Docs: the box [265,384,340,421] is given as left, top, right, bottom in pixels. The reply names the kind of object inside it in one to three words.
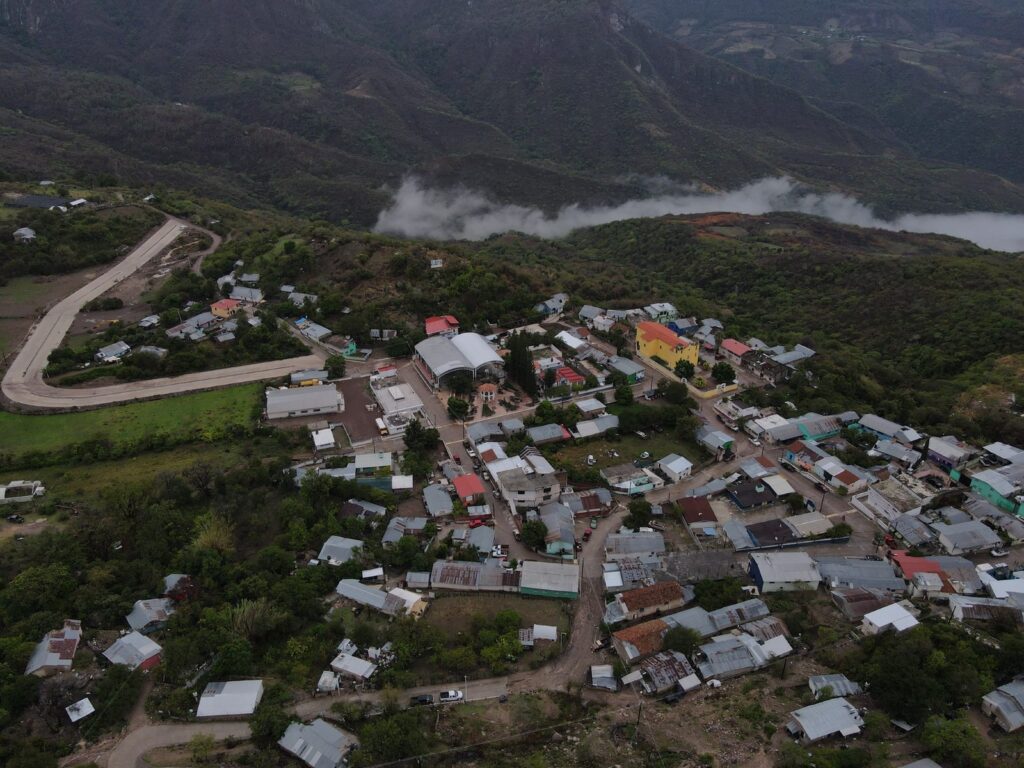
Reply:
building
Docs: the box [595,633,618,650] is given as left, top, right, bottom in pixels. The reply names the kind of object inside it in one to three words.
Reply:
vehicle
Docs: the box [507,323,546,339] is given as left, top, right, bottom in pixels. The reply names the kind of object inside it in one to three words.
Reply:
shed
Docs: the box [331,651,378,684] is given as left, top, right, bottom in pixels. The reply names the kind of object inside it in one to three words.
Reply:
house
